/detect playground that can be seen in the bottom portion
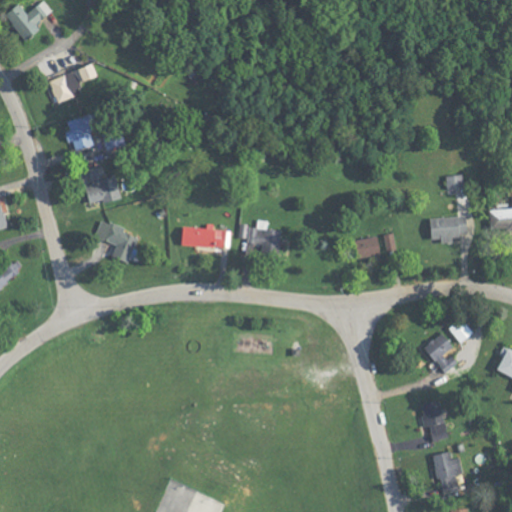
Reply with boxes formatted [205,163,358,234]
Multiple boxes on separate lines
[234,336,273,354]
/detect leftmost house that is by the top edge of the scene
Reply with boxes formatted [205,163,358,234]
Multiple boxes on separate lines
[7,0,52,40]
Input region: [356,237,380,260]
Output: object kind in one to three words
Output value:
house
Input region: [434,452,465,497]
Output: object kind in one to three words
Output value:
house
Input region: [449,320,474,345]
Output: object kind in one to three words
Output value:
building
